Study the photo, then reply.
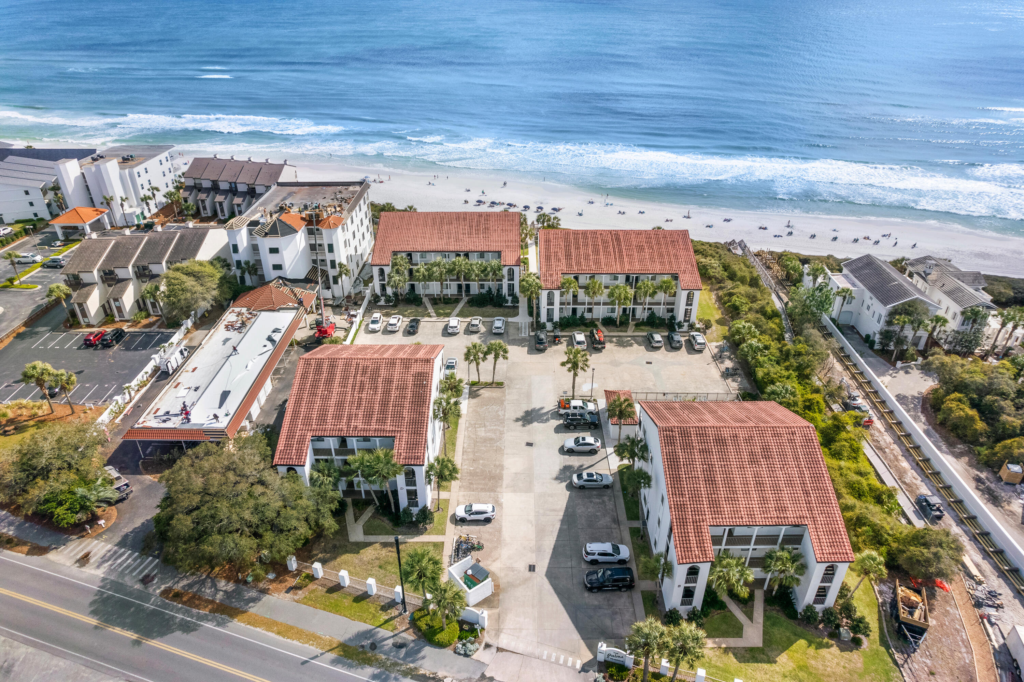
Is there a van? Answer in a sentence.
Yes, looking at the shot, I can spot a van.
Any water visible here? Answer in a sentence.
Yes, water shows up in the scene.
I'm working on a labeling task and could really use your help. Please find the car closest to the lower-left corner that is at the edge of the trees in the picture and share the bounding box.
[95,470,124,505]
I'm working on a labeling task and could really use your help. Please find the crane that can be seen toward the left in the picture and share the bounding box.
[302,207,350,340]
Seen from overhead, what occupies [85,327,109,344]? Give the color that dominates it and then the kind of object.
red car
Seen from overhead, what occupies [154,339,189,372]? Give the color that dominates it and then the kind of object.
white van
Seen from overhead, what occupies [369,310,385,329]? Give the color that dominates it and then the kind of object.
white car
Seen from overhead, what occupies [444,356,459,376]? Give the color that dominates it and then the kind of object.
white car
